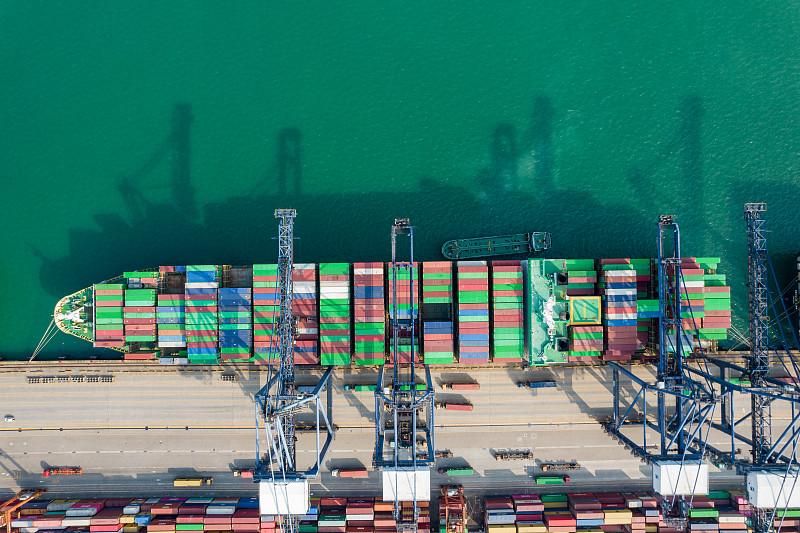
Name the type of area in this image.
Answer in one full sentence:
This image shows a port.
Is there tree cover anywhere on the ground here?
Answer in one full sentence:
No, no tree cover is visible.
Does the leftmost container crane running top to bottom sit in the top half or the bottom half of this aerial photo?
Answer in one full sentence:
Seen from above, the leftmost container crane running top to bottom lies in the bottom half of the view.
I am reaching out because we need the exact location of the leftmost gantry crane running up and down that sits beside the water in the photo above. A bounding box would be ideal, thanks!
[251,202,342,533]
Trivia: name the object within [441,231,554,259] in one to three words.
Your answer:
ship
